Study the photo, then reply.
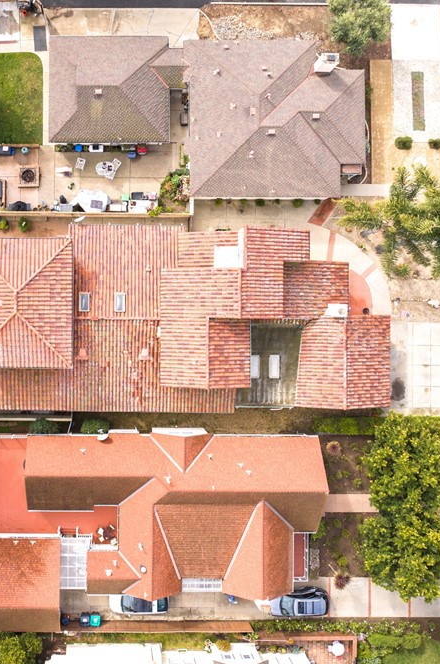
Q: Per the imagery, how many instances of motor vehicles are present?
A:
2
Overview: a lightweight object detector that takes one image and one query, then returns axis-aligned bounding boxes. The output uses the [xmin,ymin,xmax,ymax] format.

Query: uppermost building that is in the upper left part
[48,34,187,145]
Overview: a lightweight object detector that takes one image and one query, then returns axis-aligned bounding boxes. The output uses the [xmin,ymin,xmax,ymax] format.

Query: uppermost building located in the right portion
[183,39,366,198]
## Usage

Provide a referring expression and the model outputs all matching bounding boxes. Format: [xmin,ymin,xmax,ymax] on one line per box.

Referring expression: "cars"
[268,589,329,621]
[106,594,166,618]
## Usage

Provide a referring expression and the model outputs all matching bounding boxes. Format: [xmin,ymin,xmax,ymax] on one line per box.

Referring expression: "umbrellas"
[75,183,105,217]
[330,639,343,655]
